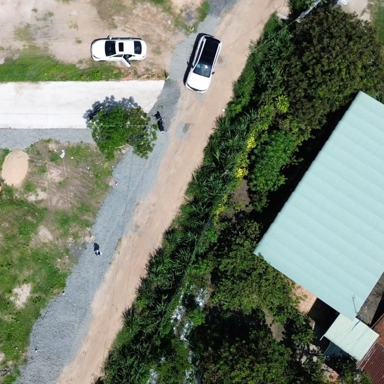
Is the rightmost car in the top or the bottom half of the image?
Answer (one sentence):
You can find the rightmost car in the top half.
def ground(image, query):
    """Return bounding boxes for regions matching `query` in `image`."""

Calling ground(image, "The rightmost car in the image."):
[187,34,218,91]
